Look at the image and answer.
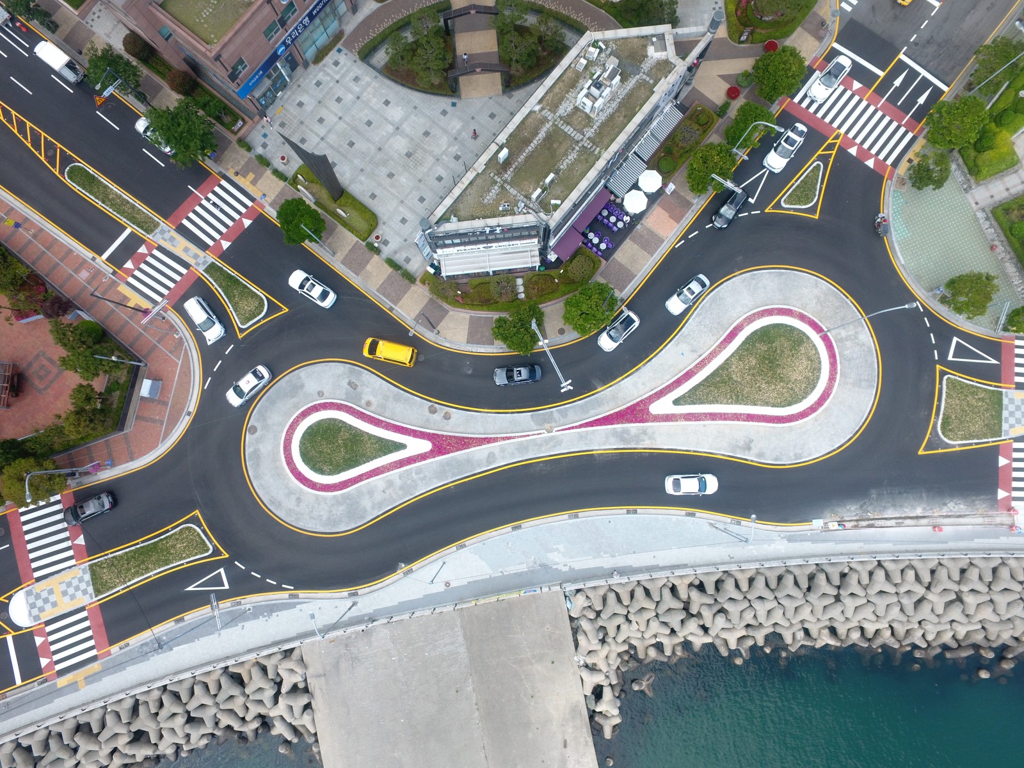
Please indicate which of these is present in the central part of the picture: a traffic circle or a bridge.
traffic circle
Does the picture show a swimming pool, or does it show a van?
van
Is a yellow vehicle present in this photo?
Yes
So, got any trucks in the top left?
Yes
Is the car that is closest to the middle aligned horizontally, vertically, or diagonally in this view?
horizontally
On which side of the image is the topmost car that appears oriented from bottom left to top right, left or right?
right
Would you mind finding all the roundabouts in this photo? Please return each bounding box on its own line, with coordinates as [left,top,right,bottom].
[242,265,882,537]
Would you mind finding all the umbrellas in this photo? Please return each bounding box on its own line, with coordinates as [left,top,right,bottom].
[623,190,648,214]
[637,169,662,194]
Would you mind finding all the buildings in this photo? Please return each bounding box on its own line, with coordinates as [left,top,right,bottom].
[94,0,358,117]
[417,9,729,282]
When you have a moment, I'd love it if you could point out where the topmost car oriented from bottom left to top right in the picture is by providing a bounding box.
[805,53,853,106]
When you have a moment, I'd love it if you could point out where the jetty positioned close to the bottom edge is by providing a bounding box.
[301,592,599,768]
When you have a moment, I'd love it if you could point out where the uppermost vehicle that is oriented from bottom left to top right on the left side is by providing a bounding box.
[225,362,275,409]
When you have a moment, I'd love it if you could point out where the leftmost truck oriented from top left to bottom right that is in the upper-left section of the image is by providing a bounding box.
[29,35,87,86]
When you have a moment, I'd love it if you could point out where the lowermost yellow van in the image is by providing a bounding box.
[361,336,418,368]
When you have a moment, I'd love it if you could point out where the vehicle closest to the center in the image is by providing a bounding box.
[491,363,544,388]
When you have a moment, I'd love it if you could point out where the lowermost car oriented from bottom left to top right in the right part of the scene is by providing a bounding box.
[596,307,642,353]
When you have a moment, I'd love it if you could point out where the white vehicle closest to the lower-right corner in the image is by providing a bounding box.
[663,472,719,498]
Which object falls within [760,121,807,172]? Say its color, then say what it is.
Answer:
white car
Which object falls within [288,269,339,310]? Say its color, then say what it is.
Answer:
white car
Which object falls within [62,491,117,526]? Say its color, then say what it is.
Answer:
gray car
